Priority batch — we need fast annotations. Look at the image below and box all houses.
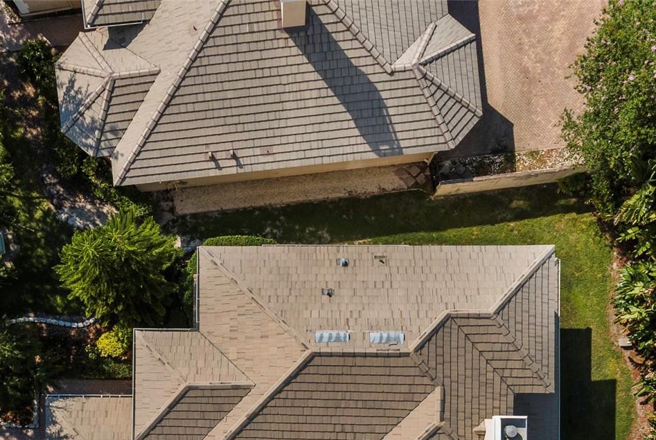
[41,242,562,440]
[8,0,484,191]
